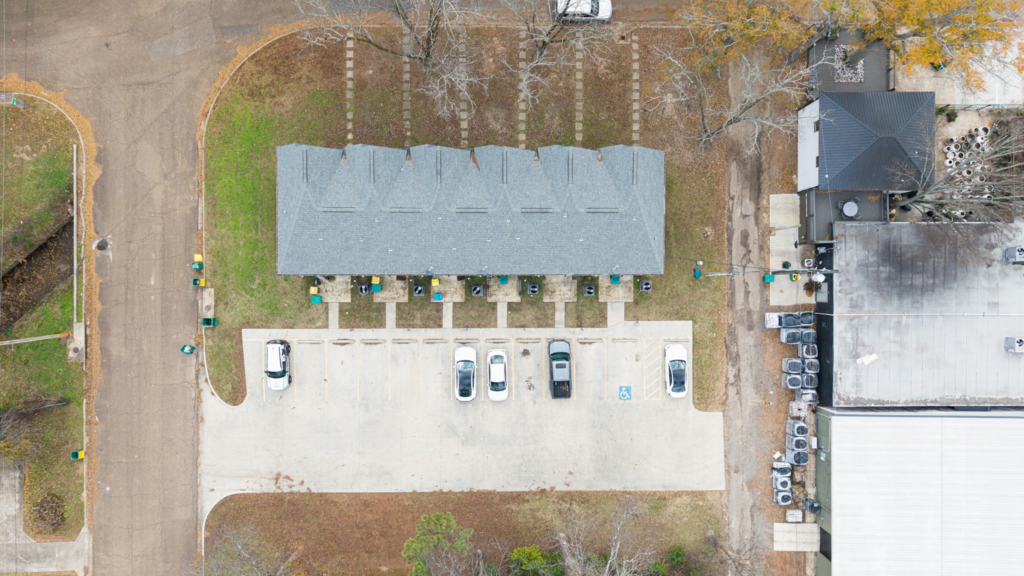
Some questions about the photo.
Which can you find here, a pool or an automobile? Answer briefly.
automobile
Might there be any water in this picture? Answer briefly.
No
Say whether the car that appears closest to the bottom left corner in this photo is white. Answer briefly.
Yes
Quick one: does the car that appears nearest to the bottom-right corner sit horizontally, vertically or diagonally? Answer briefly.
vertically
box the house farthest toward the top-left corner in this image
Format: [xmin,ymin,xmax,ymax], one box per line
[275,144,666,276]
